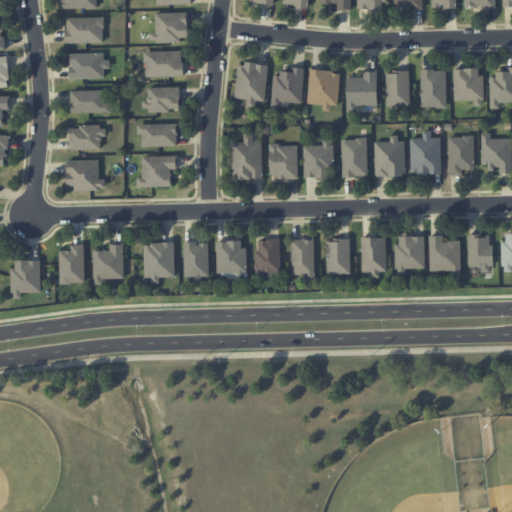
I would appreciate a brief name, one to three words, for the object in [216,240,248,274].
house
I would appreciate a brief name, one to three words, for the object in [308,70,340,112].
house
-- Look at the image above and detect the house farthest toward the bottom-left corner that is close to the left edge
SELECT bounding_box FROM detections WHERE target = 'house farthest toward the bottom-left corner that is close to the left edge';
[10,260,42,299]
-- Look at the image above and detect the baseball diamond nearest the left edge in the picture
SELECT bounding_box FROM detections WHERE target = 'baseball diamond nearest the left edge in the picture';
[0,400,62,512]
